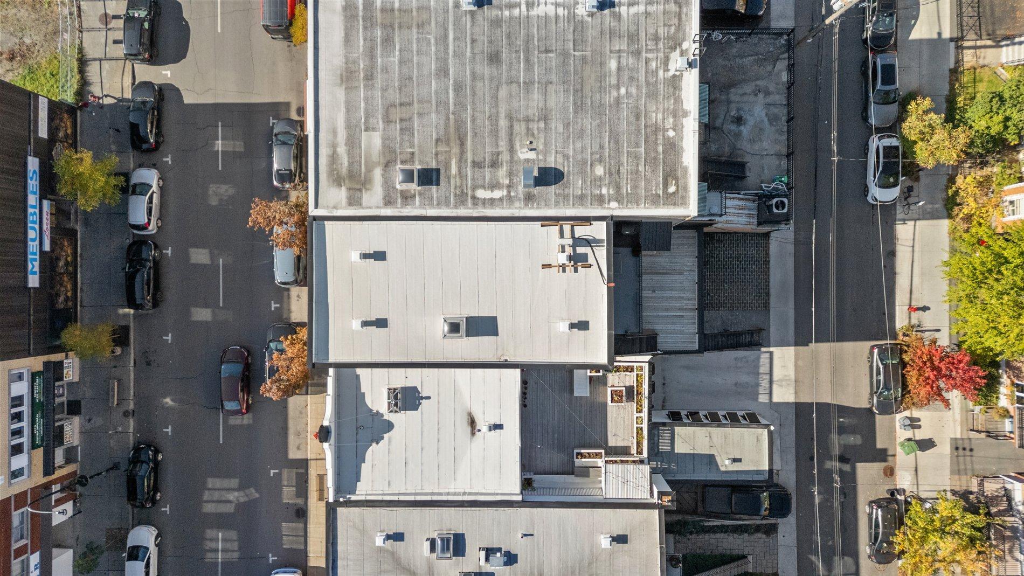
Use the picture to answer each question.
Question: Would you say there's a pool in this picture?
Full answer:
No, I find no pool anywhere in the image.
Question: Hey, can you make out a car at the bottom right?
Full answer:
Yes, the scene does show a car at the bottom right.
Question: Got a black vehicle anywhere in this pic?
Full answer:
Yes, a black vehicle appears in the view.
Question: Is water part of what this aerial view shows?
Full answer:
No, there is no water in the image.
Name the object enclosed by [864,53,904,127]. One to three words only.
car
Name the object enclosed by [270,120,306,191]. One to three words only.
car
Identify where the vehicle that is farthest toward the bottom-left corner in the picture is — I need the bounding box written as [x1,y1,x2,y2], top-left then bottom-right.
[124,524,162,576]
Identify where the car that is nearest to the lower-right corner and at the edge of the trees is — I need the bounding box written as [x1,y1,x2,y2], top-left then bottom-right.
[864,496,900,562]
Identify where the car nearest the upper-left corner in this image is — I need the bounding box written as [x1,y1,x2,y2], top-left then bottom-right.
[122,0,162,67]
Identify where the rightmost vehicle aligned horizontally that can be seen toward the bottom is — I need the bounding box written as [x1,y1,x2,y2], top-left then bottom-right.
[699,484,789,523]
